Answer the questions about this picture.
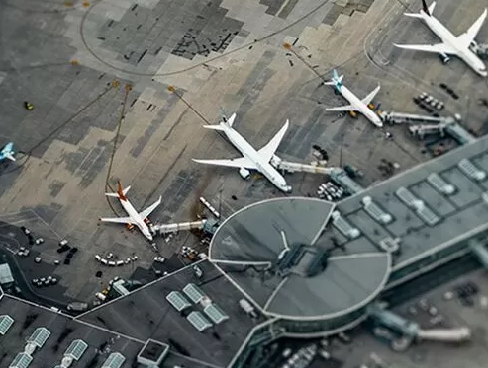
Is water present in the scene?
No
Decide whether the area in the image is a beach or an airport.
airport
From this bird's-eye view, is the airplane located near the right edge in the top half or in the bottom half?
top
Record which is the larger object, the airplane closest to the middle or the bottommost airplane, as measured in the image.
the airplane closest to the middle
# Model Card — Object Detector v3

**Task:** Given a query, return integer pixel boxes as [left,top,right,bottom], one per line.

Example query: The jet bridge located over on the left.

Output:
[148,219,216,242]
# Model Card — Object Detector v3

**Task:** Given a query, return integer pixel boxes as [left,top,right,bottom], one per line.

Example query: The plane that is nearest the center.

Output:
[196,112,292,192]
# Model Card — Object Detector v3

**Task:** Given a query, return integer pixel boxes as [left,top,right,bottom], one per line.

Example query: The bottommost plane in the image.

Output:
[99,192,161,242]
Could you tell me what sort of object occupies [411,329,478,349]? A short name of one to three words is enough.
jet bridge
